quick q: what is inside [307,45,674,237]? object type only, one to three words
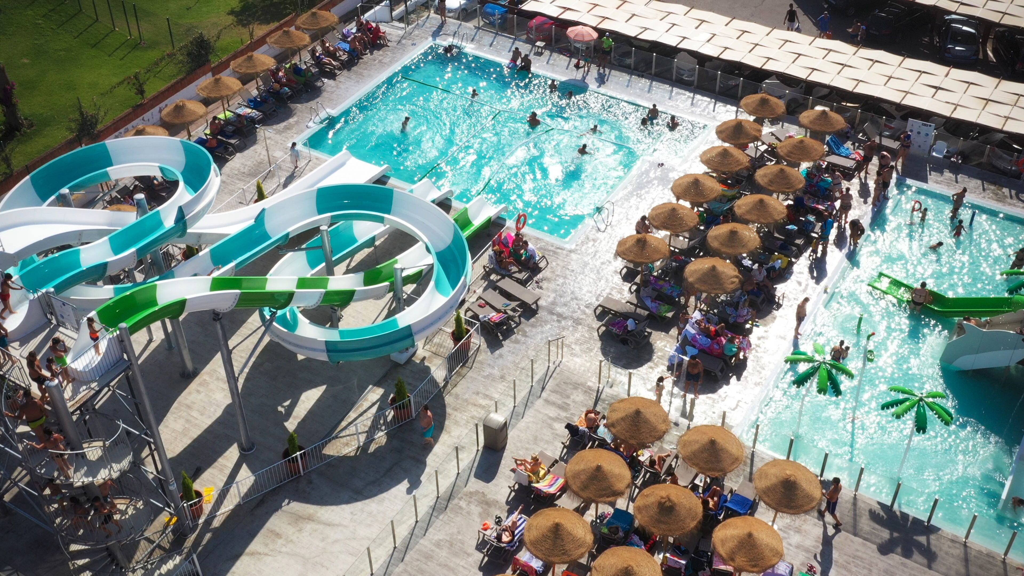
swimming pool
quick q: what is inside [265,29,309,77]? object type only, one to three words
umbrella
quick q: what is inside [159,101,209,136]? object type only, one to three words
umbrella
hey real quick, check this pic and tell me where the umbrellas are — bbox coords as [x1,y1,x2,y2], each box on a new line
[645,205,698,248]
[159,101,209,136]
[293,9,337,51]
[713,521,791,576]
[701,224,763,265]
[265,29,309,77]
[197,73,246,124]
[675,256,736,314]
[750,461,824,538]
[729,197,787,234]
[668,178,720,213]
[592,547,665,576]
[794,111,847,145]
[692,146,746,185]
[614,234,670,293]
[599,401,670,472]
[559,19,602,69]
[558,454,633,533]
[632,486,711,560]
[717,120,766,154]
[515,510,589,576]
[230,51,278,98]
[736,95,788,129]
[672,429,744,497]
[755,163,807,204]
